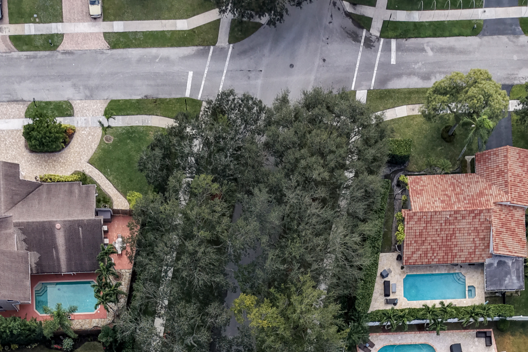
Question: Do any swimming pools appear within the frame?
Yes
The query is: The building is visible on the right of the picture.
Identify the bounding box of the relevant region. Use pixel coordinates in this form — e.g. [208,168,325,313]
[398,145,528,298]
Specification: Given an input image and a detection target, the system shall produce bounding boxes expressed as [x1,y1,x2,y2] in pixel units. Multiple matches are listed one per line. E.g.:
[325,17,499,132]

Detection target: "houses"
[0,160,104,311]
[398,145,528,298]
